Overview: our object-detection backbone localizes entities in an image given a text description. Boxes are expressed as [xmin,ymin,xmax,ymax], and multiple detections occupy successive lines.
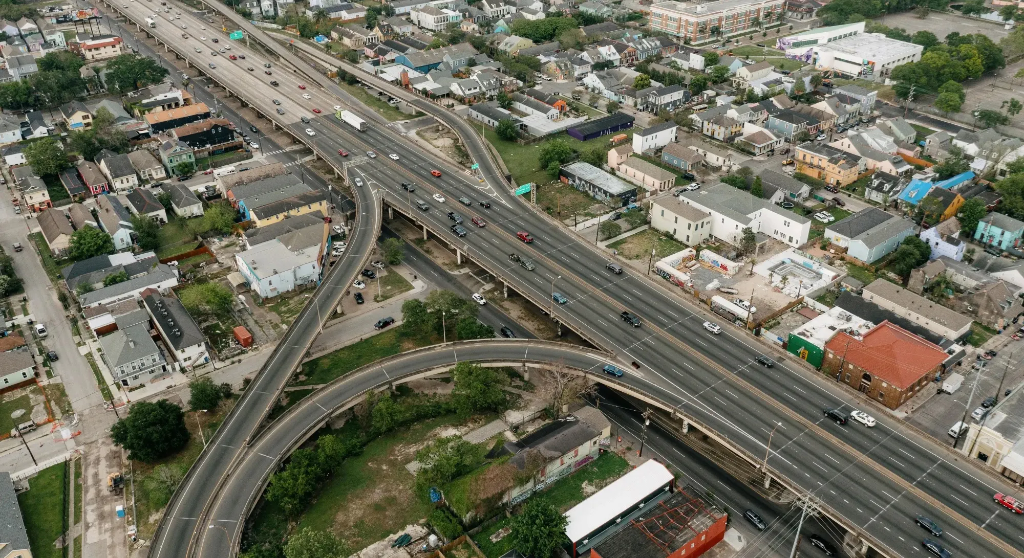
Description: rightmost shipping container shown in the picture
[699,255,739,280]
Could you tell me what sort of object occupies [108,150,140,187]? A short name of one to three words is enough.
house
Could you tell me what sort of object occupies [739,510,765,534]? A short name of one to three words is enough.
car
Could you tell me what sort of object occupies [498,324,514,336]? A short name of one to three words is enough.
vehicle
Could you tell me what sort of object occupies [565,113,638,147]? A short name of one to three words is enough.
building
